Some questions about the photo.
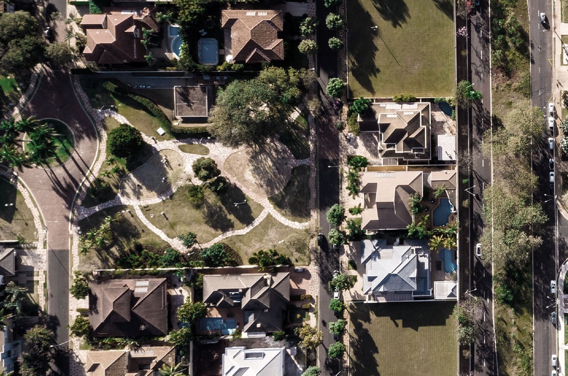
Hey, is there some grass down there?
Yes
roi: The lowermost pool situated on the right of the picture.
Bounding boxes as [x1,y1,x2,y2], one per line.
[439,248,455,273]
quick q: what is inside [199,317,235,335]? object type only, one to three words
swimming pool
